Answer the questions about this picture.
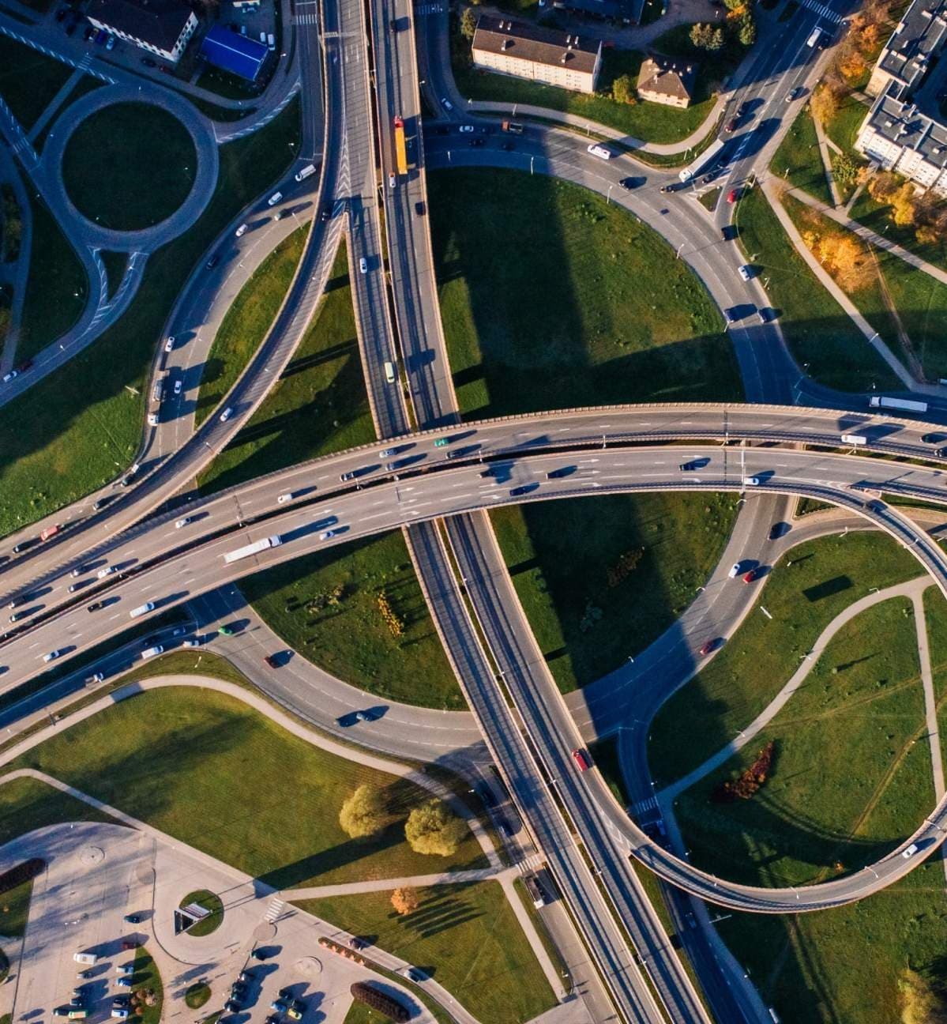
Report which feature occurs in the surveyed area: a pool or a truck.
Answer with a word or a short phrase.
truck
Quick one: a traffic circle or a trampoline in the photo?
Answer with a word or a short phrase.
traffic circle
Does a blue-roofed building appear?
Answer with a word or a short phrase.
Yes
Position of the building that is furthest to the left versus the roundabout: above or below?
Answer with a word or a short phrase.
above it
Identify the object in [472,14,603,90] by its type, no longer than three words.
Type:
house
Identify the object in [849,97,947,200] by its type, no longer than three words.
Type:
building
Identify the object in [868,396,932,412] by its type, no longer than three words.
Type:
vehicle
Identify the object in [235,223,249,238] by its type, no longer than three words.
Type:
car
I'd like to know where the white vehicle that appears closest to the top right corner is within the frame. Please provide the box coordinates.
[805,24,824,49]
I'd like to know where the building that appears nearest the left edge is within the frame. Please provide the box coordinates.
[86,0,199,66]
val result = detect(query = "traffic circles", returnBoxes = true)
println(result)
[43,77,219,251]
